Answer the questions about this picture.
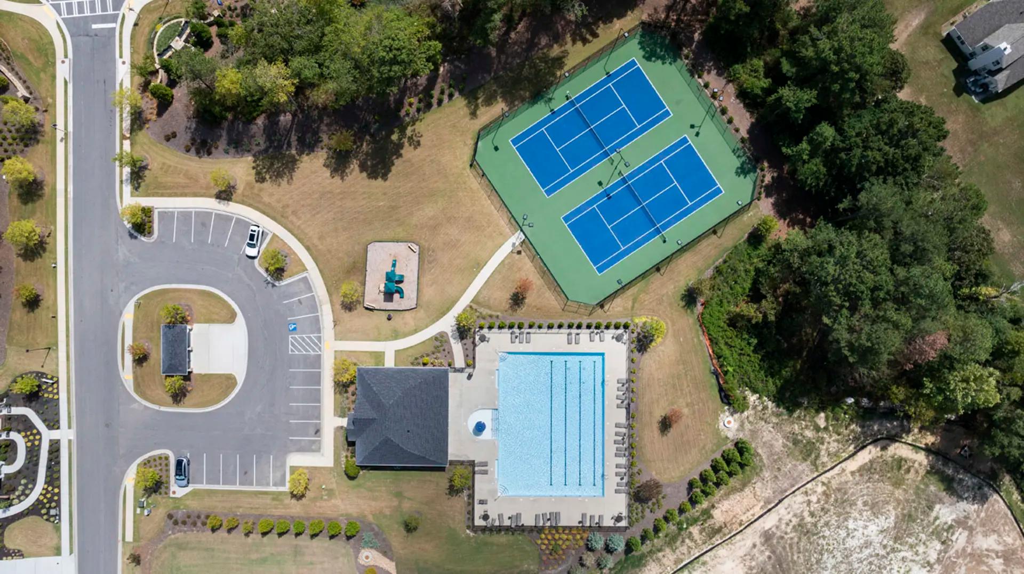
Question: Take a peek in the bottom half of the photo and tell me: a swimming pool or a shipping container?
swimming pool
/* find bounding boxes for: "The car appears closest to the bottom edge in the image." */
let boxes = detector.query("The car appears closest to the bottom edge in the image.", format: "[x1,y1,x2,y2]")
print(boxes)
[175,456,191,487]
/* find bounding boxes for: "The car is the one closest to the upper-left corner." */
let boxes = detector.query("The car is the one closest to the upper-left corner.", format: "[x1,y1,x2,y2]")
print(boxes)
[245,226,262,257]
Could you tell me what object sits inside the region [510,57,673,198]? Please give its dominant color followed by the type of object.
blue tennis court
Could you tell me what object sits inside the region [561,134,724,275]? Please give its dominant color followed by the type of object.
blue tennis court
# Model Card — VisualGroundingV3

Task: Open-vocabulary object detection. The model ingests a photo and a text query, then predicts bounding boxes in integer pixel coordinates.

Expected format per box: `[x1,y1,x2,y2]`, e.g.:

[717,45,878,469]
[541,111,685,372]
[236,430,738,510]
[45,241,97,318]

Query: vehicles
[245,226,262,257]
[175,456,191,487]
